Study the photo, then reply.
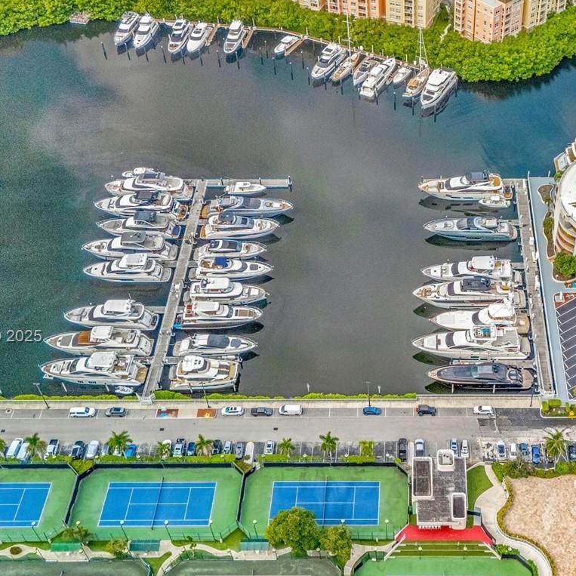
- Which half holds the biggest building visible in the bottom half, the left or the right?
right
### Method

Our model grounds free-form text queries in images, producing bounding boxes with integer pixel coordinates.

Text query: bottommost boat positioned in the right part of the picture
[427,365,534,395]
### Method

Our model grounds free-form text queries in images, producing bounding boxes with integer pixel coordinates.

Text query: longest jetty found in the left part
[135,176,292,390]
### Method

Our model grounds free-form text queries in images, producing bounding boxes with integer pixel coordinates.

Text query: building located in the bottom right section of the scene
[411,450,469,535]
